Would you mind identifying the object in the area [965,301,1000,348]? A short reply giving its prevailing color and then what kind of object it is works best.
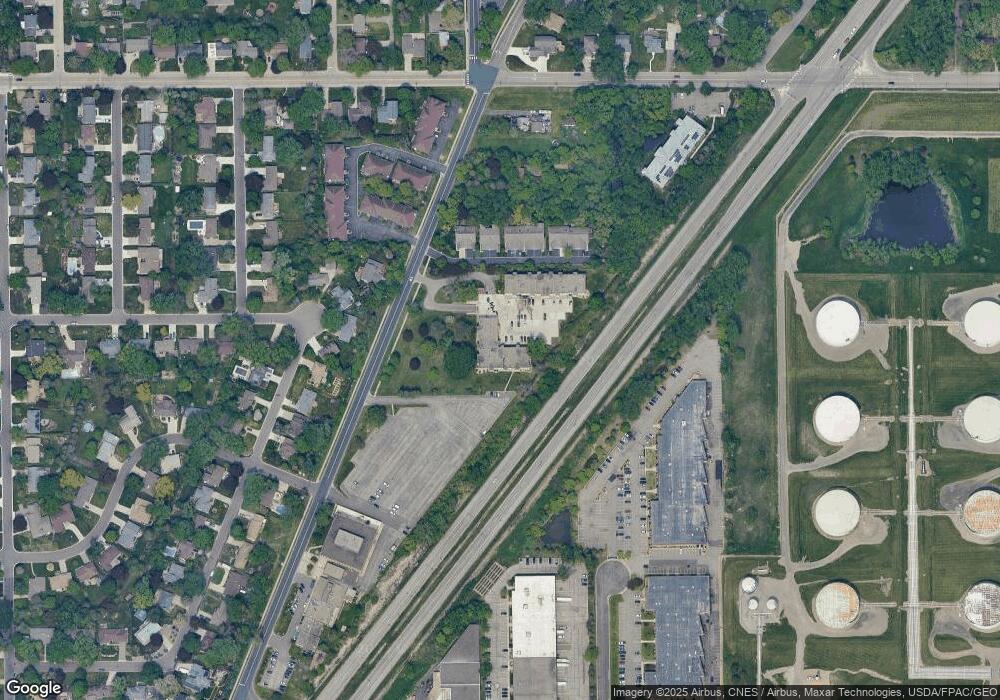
white storage tank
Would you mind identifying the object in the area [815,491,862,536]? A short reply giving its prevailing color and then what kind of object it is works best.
white storage tank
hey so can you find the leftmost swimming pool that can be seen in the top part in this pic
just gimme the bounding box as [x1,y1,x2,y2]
[66,257,79,274]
